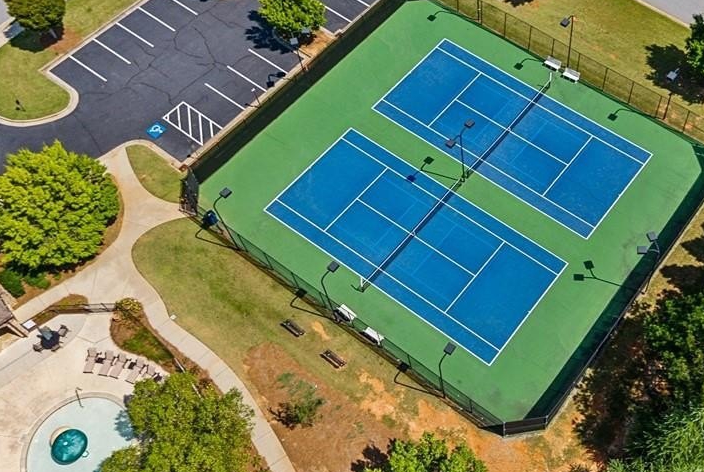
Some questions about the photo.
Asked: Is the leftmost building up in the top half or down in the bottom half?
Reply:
bottom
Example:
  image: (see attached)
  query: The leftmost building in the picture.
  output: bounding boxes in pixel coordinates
[0,294,28,351]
